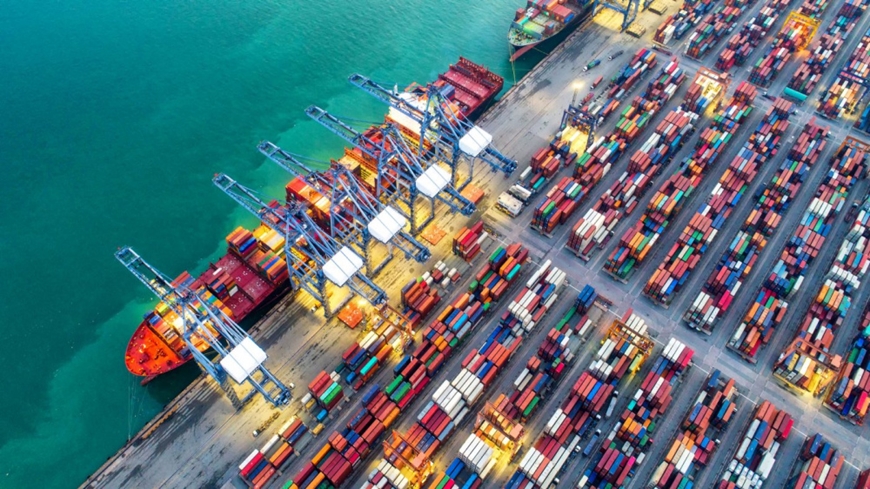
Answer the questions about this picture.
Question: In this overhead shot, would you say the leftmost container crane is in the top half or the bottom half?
bottom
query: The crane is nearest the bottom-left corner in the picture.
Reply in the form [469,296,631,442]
[116,244,294,412]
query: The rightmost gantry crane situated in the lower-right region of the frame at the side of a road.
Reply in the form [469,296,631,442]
[771,340,845,398]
